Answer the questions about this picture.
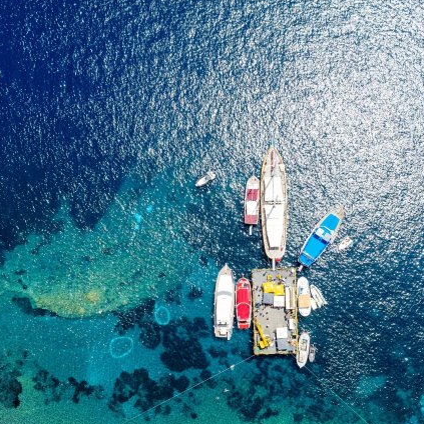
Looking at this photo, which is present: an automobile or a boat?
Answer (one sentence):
Looking from above, you can make out a boat.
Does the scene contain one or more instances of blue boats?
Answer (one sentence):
Yes, the frame does contain a blue boat.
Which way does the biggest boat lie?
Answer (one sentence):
From this overhead view, the biggest boat appears to run up and down.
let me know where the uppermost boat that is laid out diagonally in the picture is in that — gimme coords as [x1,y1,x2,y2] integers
[196,170,217,185]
